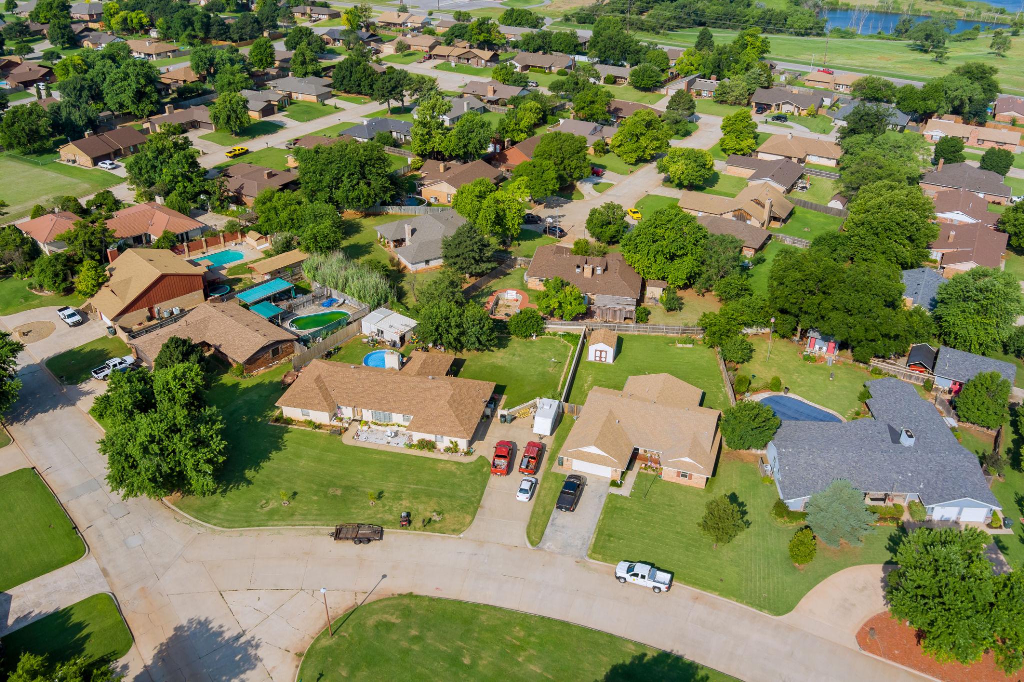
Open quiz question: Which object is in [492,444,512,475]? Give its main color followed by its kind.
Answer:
red vehicle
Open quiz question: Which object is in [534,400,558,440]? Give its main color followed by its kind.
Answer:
white trailer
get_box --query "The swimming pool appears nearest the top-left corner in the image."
[193,243,272,281]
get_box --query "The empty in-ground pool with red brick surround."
[479,290,541,326]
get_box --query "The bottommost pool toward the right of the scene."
[741,391,847,421]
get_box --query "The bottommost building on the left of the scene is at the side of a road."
[275,344,498,451]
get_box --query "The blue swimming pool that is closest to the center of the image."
[364,351,387,365]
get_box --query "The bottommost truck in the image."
[616,563,674,595]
